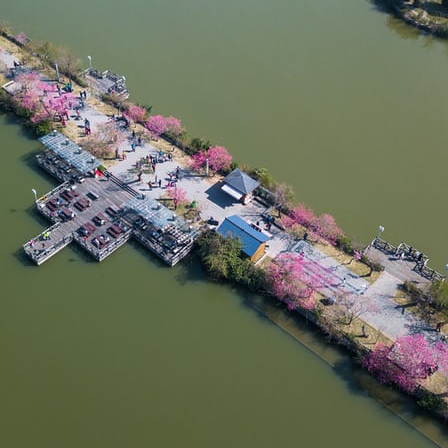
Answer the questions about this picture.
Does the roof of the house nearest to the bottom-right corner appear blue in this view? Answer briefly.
Yes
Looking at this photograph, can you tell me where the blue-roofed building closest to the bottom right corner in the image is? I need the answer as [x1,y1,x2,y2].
[217,216,279,262]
